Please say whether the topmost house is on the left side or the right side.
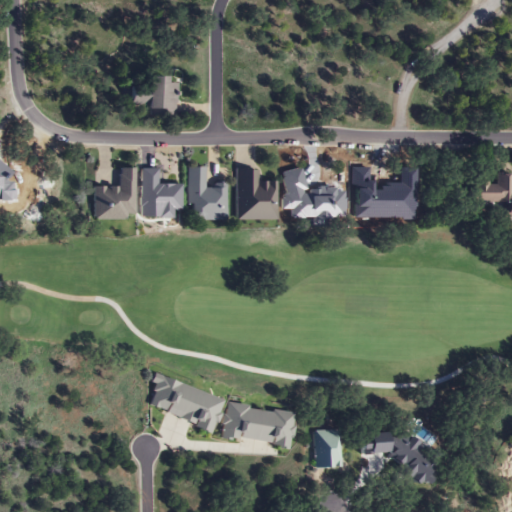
left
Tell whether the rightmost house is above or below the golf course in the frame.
above it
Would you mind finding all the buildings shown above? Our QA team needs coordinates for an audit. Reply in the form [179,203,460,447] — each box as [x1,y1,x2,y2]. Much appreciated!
[374,432,438,486]
[149,372,224,434]
[282,168,348,218]
[142,168,184,218]
[350,167,419,218]
[312,430,344,468]
[188,166,230,220]
[220,402,296,450]
[94,168,138,220]
[134,76,181,113]
[480,173,512,204]
[235,168,279,220]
